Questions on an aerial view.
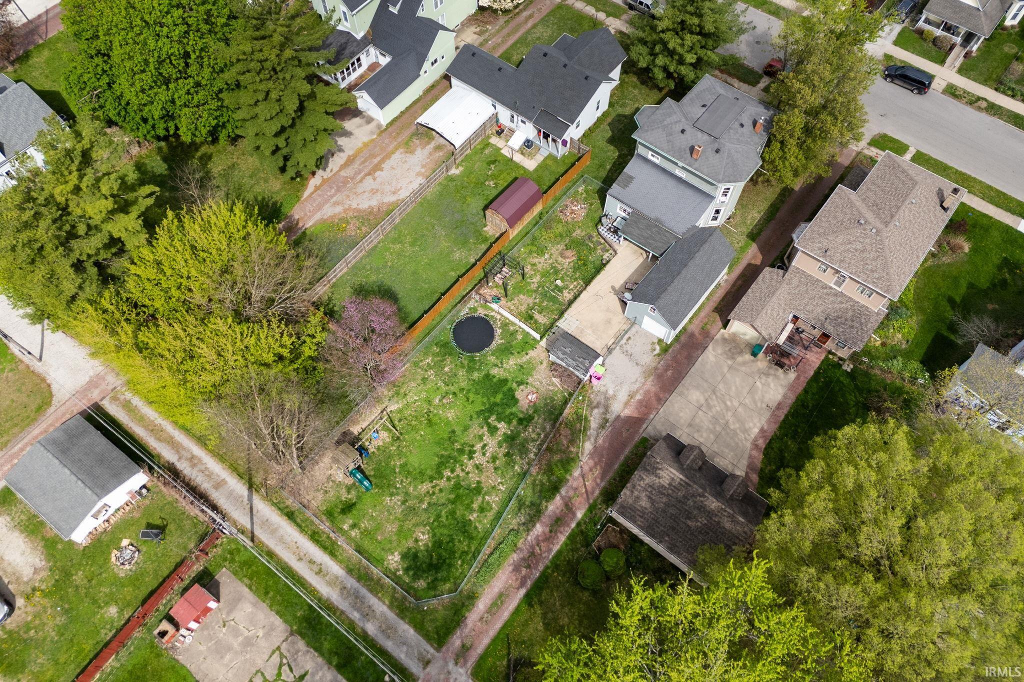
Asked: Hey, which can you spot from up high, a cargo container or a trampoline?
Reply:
trampoline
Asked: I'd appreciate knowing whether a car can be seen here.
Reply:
Yes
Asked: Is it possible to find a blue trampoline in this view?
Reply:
No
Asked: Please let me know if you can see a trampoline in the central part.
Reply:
Yes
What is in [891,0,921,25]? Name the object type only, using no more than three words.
car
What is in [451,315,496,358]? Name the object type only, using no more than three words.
trampoline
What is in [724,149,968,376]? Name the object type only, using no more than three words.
house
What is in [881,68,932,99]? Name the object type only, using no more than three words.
car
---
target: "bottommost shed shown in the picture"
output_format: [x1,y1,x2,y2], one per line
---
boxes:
[170,581,227,635]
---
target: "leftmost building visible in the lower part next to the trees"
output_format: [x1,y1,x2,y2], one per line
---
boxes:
[3,415,148,545]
